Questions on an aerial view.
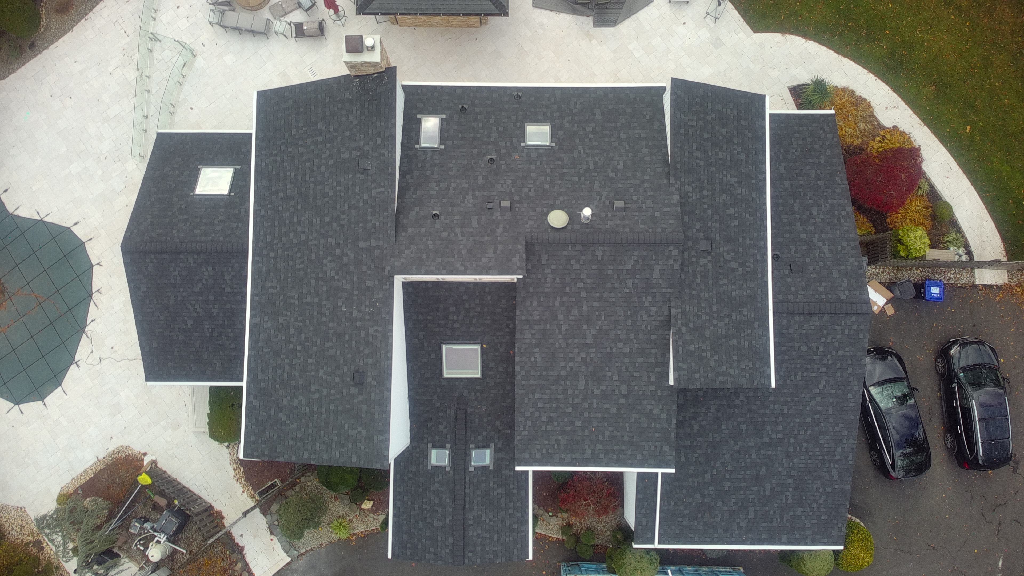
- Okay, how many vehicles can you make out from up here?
2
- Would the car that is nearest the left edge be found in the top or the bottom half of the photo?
bottom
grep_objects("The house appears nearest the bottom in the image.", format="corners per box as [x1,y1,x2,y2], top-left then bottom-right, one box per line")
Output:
[120,35,871,567]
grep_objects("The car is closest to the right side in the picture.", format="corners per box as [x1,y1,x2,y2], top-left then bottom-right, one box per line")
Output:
[935,338,1016,471]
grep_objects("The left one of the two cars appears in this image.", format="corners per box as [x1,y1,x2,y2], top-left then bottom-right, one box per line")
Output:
[861,347,933,482]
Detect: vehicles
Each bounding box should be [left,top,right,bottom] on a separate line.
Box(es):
[861,347,933,482]
[935,338,1016,471]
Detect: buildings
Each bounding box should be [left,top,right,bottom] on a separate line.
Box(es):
[356,0,509,28]
[120,35,871,567]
